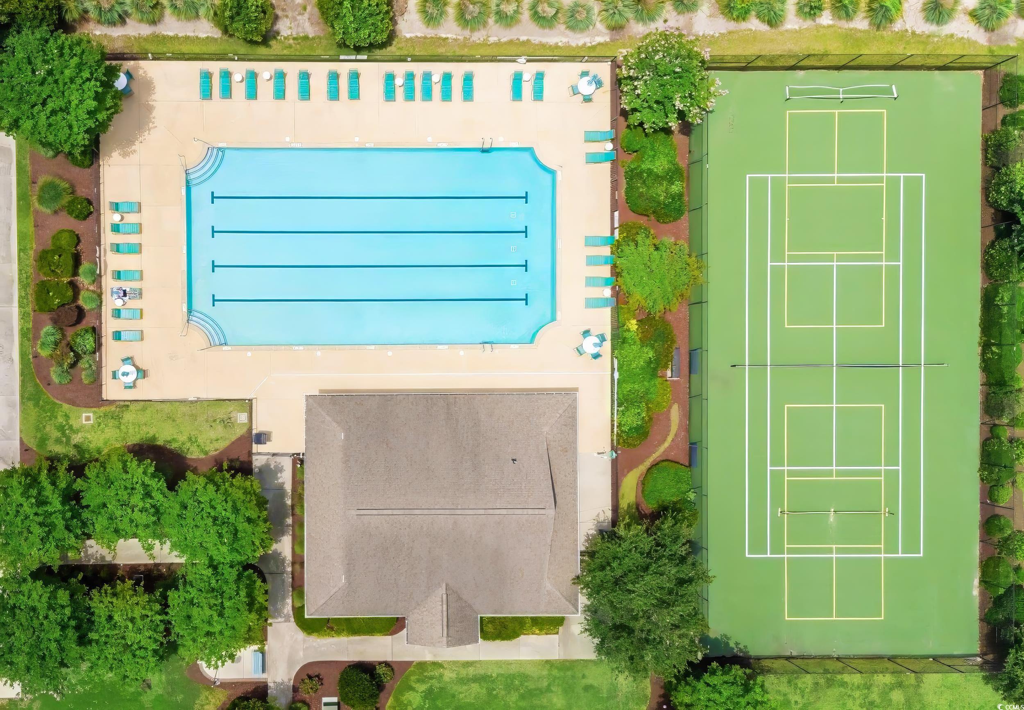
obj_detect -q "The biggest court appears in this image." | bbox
[689,70,982,658]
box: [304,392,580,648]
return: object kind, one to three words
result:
building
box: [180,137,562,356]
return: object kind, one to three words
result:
swimming pool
